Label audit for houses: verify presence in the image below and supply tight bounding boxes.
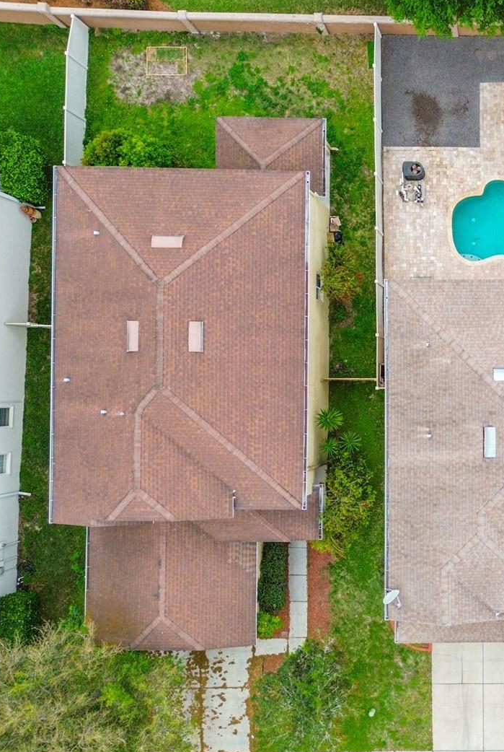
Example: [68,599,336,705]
[50,116,344,658]
[0,205,45,613]
[384,277,504,644]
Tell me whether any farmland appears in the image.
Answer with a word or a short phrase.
No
